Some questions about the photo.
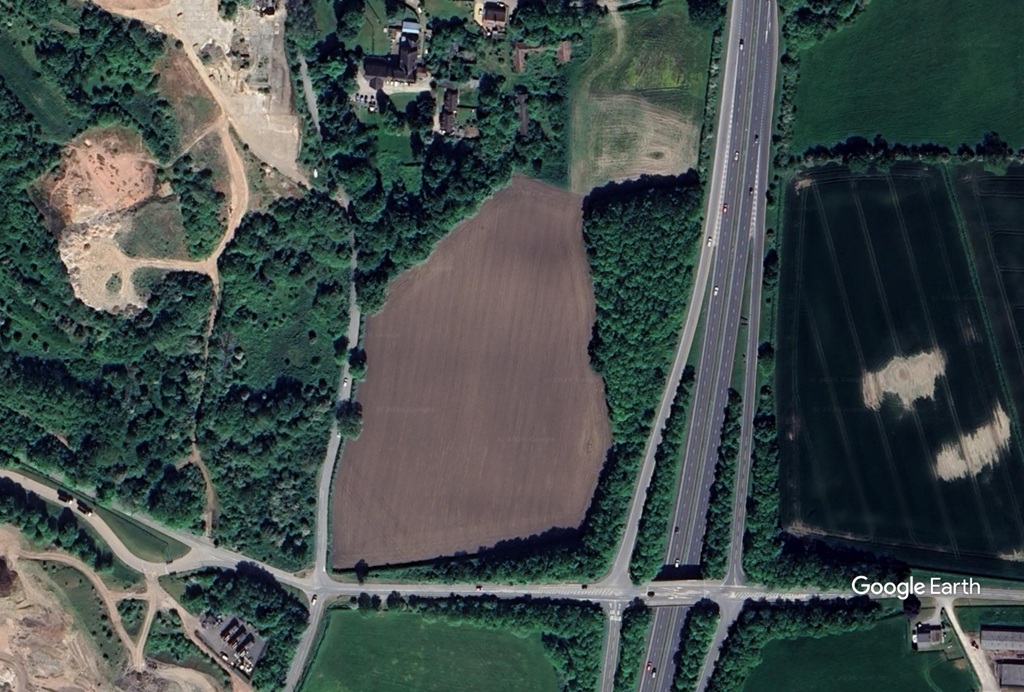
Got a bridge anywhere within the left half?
No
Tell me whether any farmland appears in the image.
Yes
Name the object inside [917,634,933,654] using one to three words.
house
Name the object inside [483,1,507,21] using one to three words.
house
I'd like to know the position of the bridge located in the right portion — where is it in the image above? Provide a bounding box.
[644,581,710,605]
